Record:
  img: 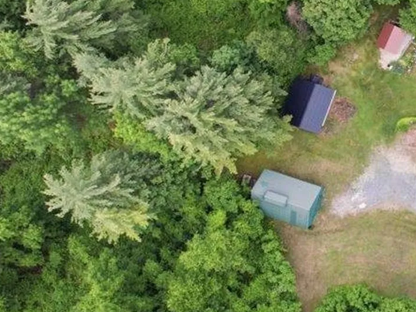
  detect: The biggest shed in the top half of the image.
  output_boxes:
[284,77,341,133]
